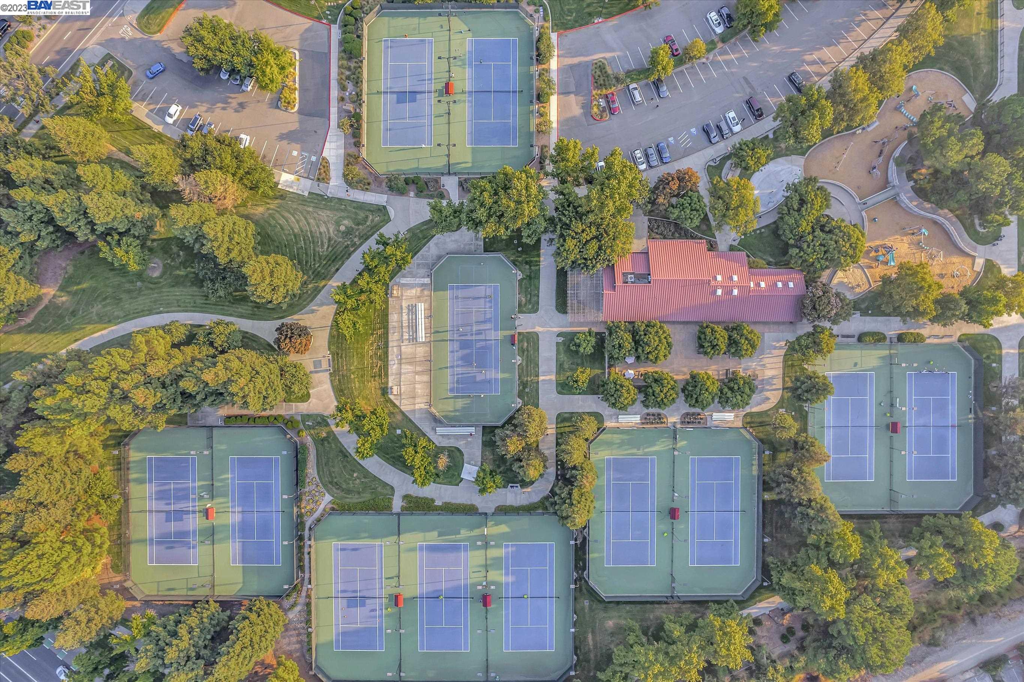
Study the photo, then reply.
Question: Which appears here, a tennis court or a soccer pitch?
tennis court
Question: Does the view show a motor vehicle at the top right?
Yes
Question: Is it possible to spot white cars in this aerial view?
Yes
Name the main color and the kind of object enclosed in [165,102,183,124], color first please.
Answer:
white car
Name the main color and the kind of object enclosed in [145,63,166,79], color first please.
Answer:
blue car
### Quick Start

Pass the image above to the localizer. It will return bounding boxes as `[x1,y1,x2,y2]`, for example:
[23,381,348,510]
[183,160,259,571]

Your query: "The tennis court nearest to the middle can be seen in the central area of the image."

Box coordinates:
[431,255,516,424]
